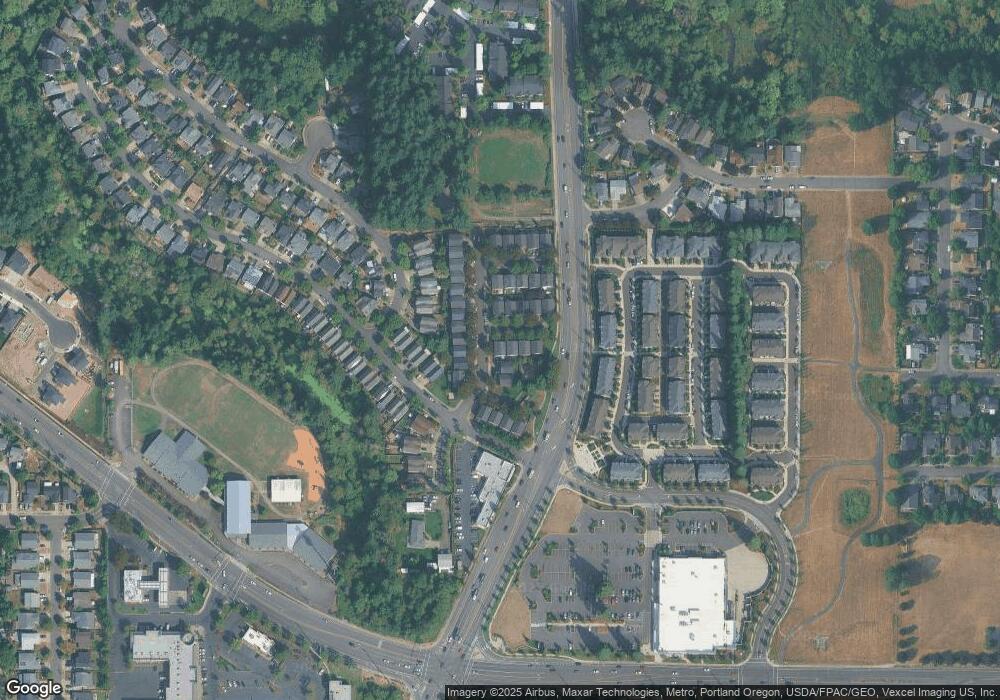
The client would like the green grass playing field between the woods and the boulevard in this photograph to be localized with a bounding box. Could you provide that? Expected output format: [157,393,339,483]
[474,128,550,190]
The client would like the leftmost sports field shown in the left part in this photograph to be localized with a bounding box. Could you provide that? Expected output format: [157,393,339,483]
[155,361,297,475]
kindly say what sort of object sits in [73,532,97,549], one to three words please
house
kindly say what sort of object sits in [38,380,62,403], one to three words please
house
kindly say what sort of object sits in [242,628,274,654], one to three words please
building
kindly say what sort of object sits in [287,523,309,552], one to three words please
building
